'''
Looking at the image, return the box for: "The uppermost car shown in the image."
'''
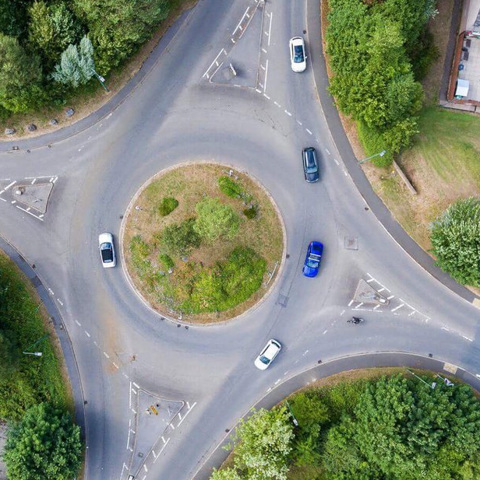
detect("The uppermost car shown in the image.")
[289,36,307,73]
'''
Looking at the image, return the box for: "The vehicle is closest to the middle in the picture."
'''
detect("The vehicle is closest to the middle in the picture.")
[301,242,323,278]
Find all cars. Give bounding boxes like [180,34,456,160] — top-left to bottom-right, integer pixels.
[254,337,282,371]
[301,146,320,184]
[301,242,323,278]
[97,232,116,268]
[289,36,307,73]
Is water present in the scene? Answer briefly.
No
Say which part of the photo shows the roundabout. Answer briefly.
center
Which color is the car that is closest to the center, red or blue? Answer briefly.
blue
